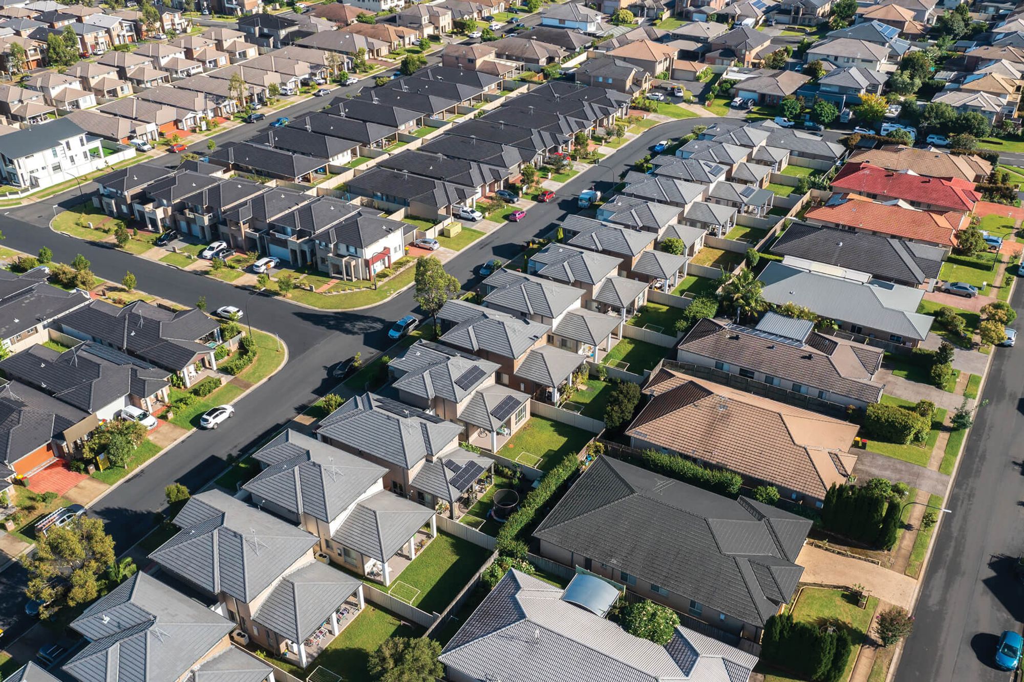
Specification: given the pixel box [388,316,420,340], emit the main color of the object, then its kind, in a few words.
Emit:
blue car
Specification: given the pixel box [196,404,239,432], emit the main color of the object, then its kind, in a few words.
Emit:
white car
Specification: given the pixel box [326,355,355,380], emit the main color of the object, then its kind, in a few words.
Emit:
black car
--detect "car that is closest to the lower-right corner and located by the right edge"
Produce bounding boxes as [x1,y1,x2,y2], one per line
[990,633,1024,677]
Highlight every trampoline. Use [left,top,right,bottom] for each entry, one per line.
[486,483,522,521]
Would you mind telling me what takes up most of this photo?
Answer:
buildings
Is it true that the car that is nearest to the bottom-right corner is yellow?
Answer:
No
